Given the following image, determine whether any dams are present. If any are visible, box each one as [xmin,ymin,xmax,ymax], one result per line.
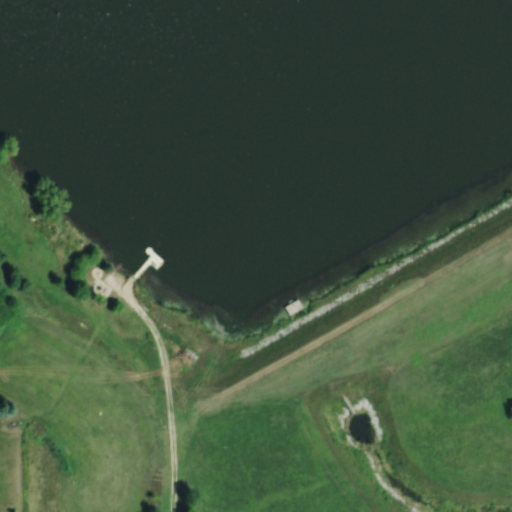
[175,196,512,414]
